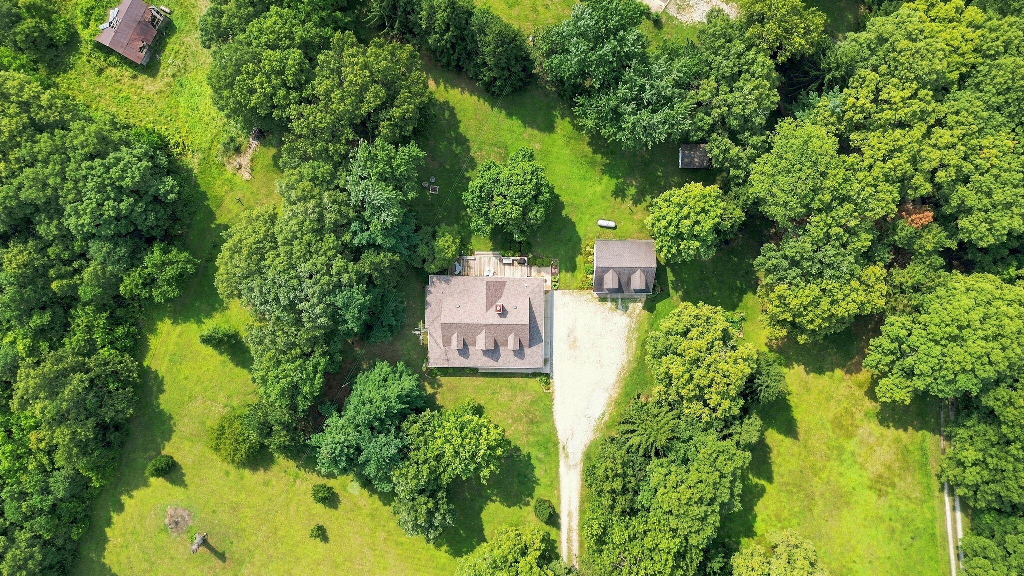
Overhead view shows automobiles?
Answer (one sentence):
No, no automobile can be seen from above.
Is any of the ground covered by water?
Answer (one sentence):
No, the picture contains no water.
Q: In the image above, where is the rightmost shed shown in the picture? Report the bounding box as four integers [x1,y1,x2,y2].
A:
[678,144,712,169]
